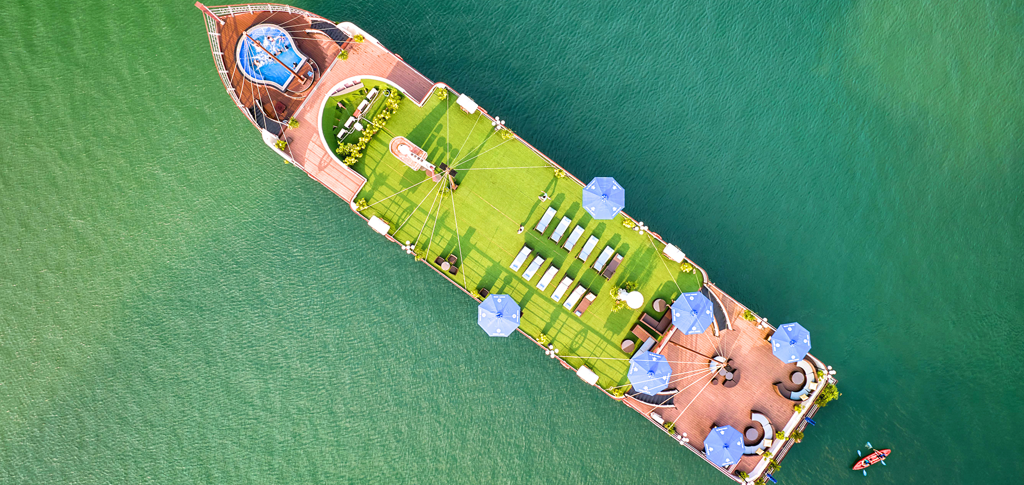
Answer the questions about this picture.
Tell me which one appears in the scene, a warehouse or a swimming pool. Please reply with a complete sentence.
Looking from above, you can make out a swimming pool.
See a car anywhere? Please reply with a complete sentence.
No, I can't see a single car in this photo.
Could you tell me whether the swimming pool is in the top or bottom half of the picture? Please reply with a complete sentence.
The swimming pool is in the top half of the image.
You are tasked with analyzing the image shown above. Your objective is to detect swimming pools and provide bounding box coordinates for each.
[235,22,320,99]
